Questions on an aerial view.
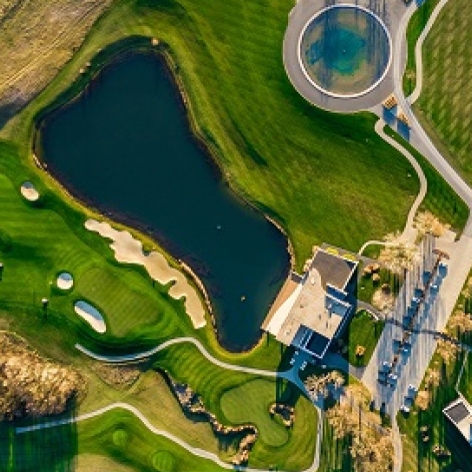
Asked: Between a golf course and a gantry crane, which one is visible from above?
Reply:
golf course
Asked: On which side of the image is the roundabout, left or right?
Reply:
right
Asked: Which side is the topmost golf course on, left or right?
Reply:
left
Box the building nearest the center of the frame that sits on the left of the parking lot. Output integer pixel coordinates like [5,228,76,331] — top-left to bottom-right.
[261,249,359,359]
